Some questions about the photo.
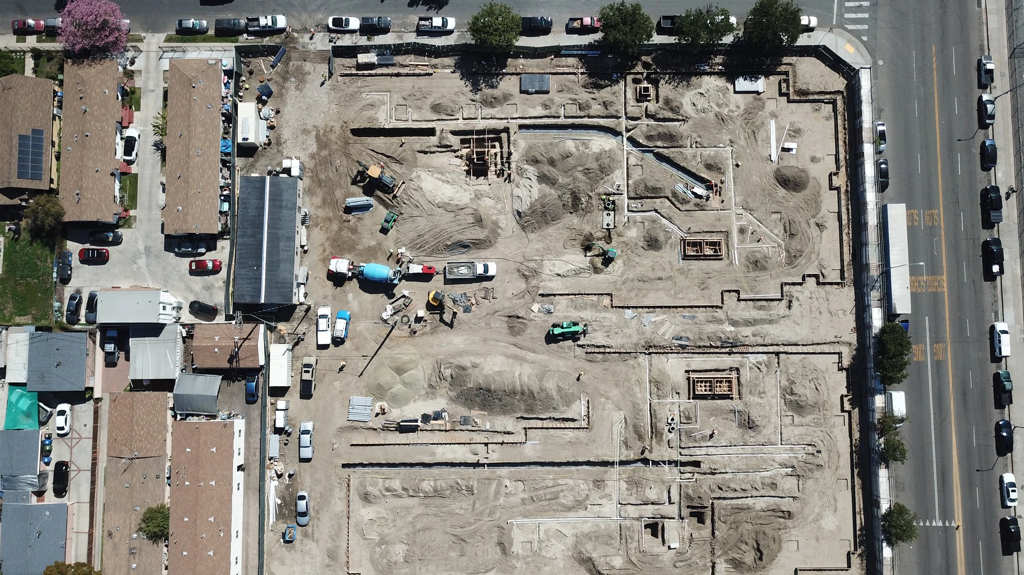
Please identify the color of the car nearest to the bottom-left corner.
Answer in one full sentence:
The color of the car nearest to the bottom-left corner is black.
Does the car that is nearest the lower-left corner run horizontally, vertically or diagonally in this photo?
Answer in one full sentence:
The car that is nearest the lower-left corner is oriented vertically.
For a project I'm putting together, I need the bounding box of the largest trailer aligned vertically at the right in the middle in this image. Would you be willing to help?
[879,203,915,315]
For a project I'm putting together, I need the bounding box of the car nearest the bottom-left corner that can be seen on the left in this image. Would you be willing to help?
[51,461,72,497]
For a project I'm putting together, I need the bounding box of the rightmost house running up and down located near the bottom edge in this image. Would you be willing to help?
[167,421,244,575]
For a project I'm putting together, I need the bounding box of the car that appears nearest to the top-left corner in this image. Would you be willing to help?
[13,18,45,34]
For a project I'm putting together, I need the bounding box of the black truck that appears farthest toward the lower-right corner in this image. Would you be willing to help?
[999,516,1020,553]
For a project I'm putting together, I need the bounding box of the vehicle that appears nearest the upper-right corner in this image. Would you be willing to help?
[977,55,996,87]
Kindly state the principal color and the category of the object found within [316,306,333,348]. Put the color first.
white vehicle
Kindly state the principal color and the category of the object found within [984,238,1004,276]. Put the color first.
black vehicle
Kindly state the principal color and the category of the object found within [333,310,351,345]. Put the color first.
white car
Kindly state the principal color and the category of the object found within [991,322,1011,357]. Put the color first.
white car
